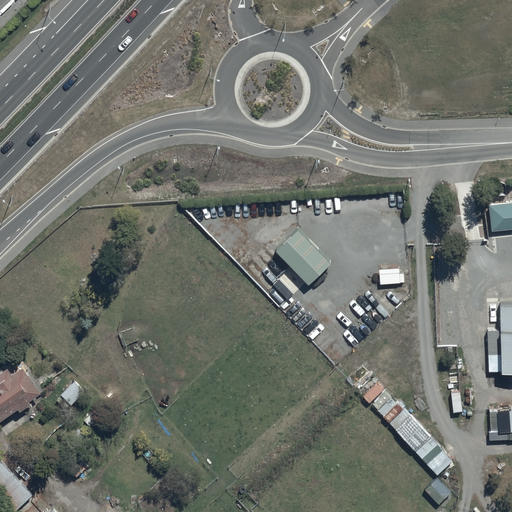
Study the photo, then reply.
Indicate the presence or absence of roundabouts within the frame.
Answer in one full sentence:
Yes, the image includes a roundabout.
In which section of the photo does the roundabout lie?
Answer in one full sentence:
You can find the roundabout in the top area of the picture.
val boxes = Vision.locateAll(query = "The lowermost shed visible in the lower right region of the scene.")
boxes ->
[424,476,452,504]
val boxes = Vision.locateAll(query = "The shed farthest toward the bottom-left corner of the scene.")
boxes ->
[0,459,32,510]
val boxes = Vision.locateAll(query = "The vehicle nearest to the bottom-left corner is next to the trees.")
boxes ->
[14,465,31,480]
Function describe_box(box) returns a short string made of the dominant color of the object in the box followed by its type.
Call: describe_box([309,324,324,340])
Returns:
white vehicle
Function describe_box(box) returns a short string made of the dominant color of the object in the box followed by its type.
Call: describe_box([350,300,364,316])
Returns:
white vehicle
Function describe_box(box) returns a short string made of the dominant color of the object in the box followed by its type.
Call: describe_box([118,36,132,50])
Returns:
white car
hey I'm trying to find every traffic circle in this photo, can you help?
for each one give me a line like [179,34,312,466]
[214,32,331,147]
